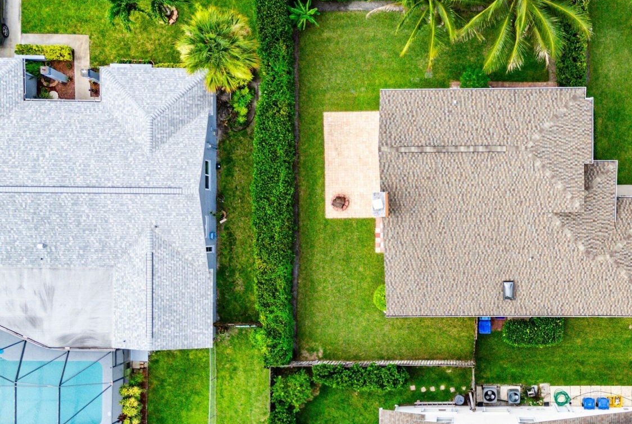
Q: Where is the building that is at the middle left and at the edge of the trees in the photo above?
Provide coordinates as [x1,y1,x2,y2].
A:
[0,54,219,355]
